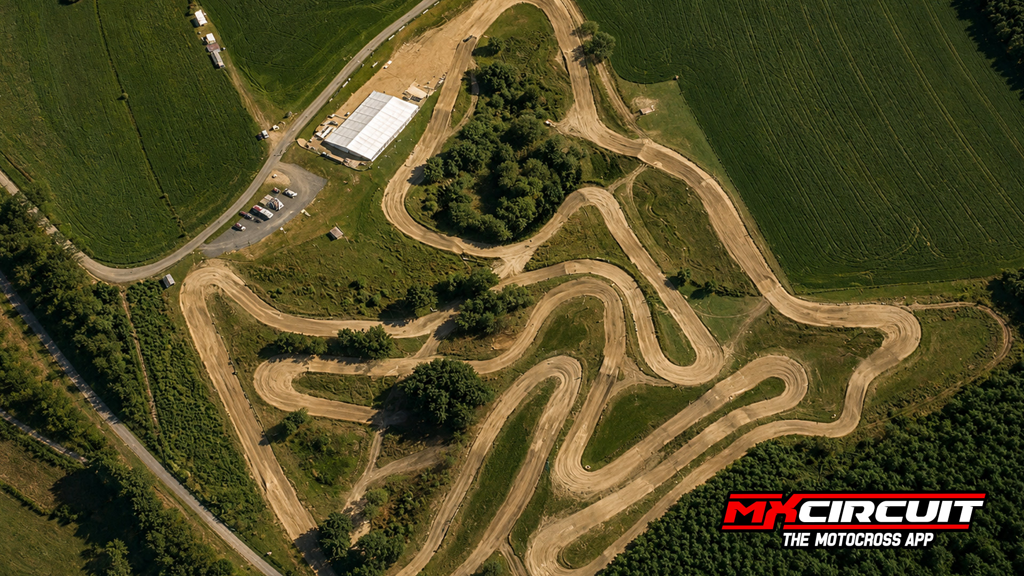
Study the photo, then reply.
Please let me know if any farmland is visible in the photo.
Yes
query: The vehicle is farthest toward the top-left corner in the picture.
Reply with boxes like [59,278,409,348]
[208,50,226,71]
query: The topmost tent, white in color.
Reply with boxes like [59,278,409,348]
[324,90,420,163]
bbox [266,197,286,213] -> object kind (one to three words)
vehicle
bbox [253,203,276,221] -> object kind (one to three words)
vehicle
